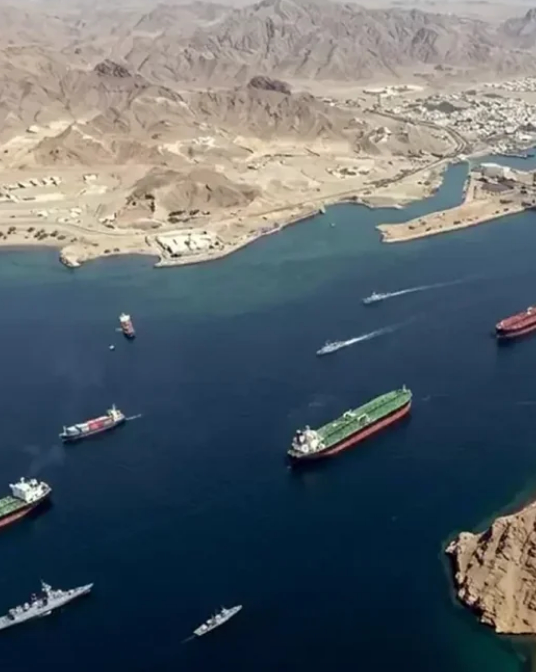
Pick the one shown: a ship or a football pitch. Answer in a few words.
ship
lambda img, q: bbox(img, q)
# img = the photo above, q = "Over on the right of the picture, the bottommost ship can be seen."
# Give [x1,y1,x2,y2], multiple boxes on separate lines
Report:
[289,393,413,459]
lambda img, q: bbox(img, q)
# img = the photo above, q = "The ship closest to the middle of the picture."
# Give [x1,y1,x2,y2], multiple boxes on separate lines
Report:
[317,341,346,353]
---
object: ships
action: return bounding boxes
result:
[117,310,137,338]
[289,393,413,459]
[497,310,536,334]
[317,341,346,353]
[196,606,239,634]
[0,471,50,527]
[363,291,390,302]
[63,406,125,440]
[0,582,90,629]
